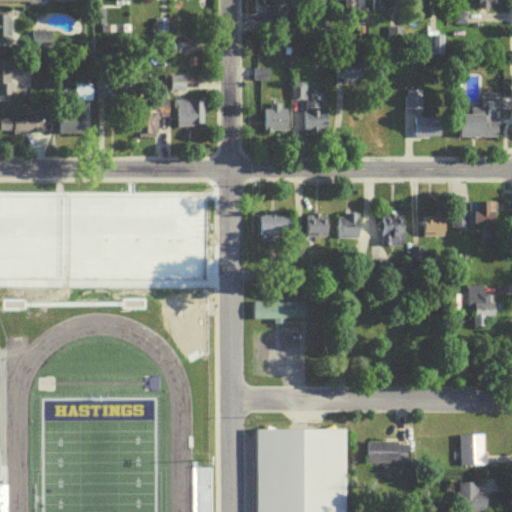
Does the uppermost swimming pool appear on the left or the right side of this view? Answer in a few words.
left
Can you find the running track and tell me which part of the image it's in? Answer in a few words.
bottom left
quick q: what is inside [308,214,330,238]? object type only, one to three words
house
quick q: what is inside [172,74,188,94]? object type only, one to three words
building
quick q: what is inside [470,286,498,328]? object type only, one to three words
house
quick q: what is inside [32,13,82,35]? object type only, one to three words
swimming pool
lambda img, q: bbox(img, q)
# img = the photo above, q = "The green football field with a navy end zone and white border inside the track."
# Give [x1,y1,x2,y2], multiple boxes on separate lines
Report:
[30,336,168,512]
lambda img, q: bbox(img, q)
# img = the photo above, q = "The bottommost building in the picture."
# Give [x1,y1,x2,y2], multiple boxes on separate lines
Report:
[460,478,500,512]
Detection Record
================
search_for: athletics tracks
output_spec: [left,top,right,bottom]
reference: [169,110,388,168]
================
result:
[6,313,191,512]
